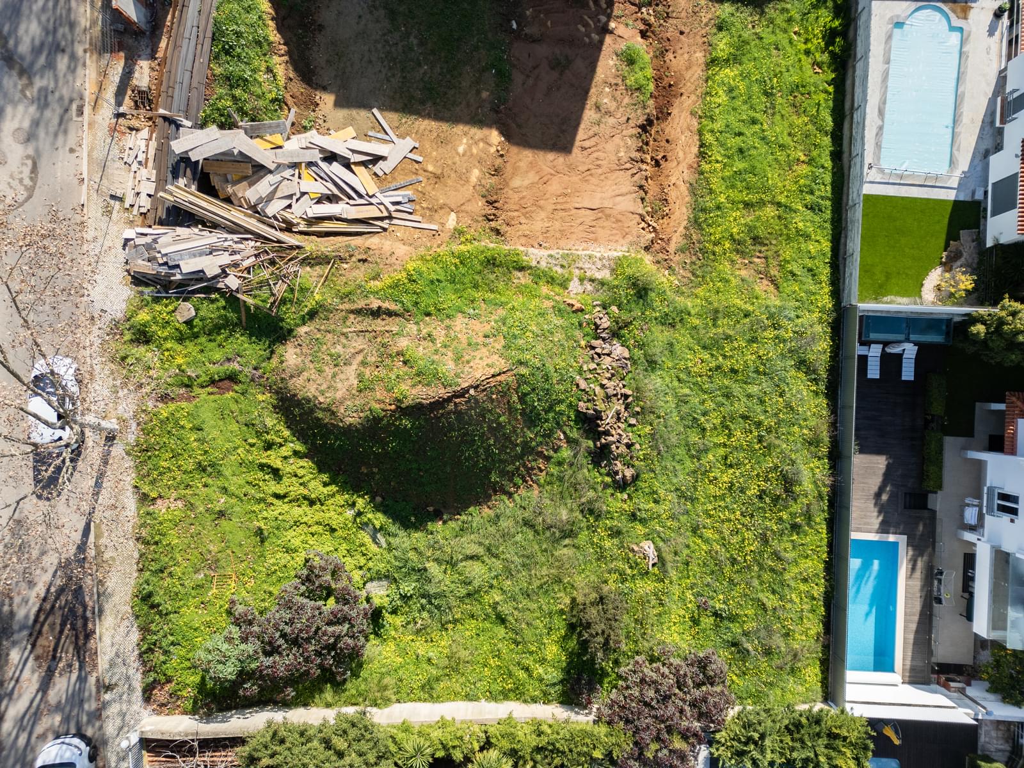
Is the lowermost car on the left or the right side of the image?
left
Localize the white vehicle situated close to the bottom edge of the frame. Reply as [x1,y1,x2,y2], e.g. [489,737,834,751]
[42,734,97,768]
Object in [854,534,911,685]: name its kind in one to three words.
swimming pool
